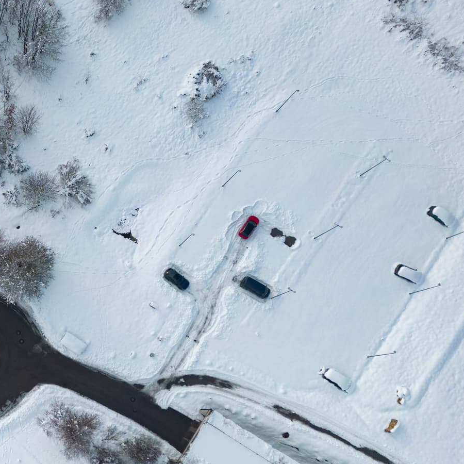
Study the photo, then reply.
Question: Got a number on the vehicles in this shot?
six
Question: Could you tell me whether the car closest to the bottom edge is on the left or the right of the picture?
right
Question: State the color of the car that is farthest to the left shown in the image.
black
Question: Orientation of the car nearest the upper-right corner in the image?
diagonally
